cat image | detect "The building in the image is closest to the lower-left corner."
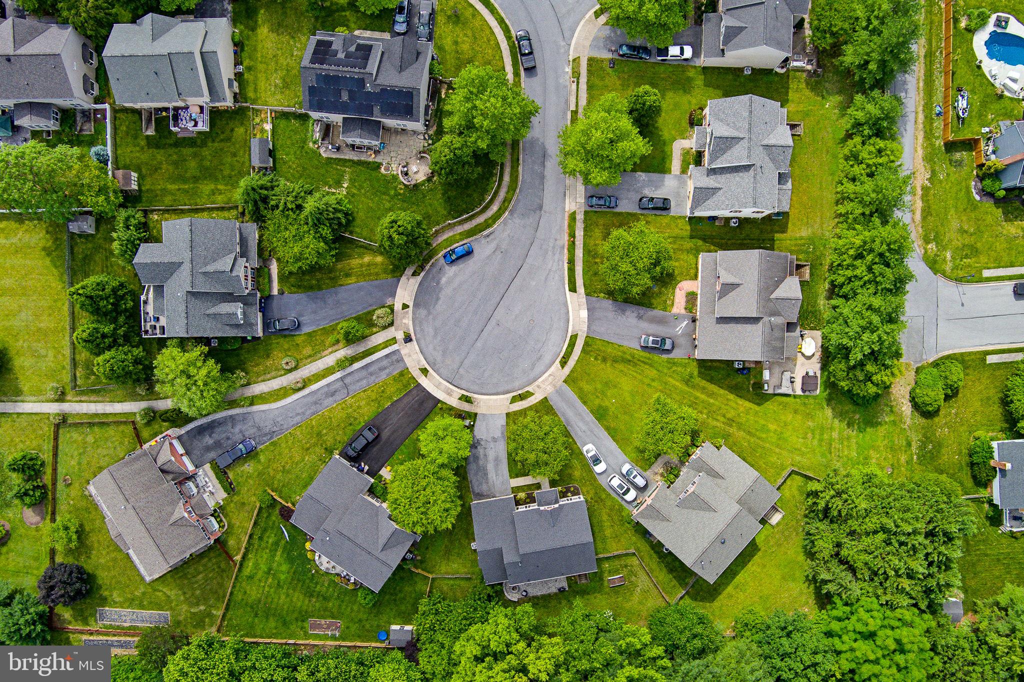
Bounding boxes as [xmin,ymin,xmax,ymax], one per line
[90,434,226,583]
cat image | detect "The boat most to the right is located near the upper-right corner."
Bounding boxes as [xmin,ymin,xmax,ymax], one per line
[953,93,969,124]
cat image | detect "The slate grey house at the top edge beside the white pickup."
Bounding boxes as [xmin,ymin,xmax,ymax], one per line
[700,0,812,64]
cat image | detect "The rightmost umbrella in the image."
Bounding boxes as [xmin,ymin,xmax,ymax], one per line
[799,337,817,356]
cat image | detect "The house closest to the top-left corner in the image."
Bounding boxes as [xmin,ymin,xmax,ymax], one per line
[0,15,102,128]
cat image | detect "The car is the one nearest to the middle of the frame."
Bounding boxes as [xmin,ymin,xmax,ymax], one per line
[442,242,475,265]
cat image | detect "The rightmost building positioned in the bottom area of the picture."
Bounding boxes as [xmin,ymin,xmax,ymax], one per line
[986,440,1024,510]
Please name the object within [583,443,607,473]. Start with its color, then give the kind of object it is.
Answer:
white car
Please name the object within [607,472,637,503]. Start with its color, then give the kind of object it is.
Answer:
white car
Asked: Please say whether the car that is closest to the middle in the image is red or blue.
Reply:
blue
